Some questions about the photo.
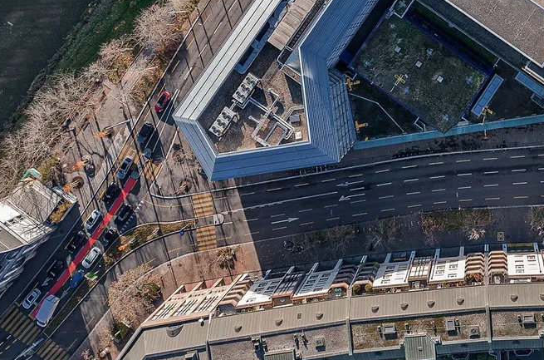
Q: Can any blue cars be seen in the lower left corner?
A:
Yes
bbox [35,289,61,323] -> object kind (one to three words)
truck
